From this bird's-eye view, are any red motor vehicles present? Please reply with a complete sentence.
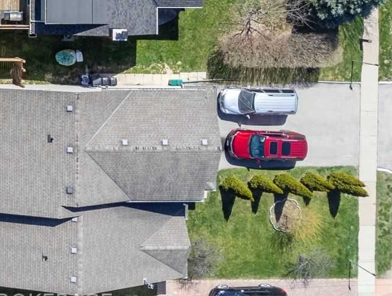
Yes, I can see a red motor vehicle in this picture.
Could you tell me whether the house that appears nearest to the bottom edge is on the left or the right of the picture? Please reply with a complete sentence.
The house that appears nearest to the bottom edge sits on the left side.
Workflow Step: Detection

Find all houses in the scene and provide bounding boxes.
[31,0,206,40]
[0,79,220,296]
